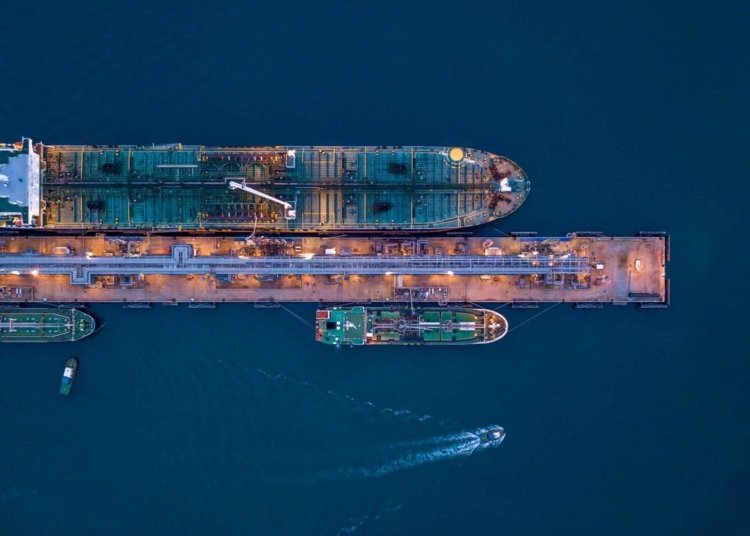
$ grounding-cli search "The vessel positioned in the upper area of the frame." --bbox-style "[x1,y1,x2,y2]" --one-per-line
[0,138,530,231]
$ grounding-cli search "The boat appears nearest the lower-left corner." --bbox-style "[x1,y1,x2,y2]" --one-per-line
[59,357,76,394]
